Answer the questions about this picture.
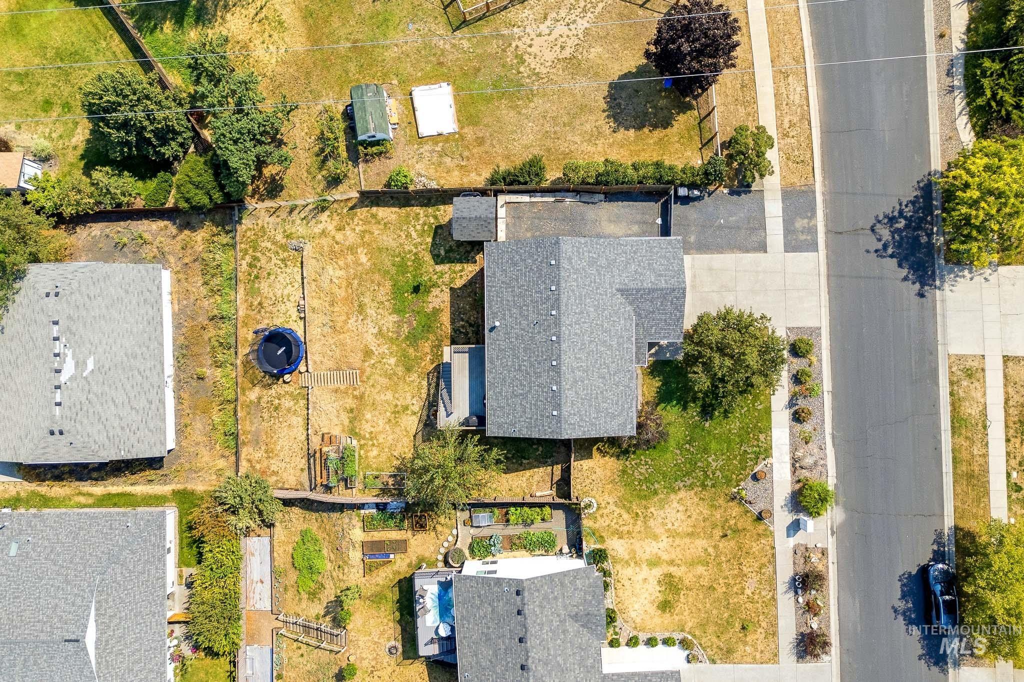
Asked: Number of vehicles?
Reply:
one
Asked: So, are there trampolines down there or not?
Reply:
Yes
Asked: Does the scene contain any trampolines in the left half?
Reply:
Yes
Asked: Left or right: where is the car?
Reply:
right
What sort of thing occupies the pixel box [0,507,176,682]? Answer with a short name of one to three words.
house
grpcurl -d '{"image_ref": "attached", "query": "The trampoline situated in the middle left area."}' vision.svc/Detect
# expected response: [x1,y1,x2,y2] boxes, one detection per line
[245,323,307,381]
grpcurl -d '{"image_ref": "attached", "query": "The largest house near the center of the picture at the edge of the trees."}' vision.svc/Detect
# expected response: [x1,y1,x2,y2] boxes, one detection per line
[484,236,687,439]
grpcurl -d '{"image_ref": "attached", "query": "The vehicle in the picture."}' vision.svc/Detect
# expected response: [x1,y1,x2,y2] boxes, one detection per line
[924,564,962,632]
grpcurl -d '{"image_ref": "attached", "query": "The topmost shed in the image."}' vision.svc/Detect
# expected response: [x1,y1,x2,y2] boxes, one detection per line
[350,82,395,146]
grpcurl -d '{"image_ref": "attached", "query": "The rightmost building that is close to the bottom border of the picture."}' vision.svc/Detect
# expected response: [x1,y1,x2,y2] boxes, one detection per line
[453,547,682,682]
